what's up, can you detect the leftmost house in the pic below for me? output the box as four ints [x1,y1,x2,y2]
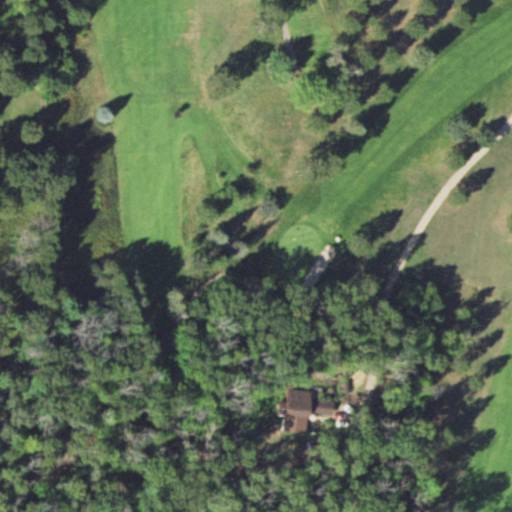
[280,390,312,434]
